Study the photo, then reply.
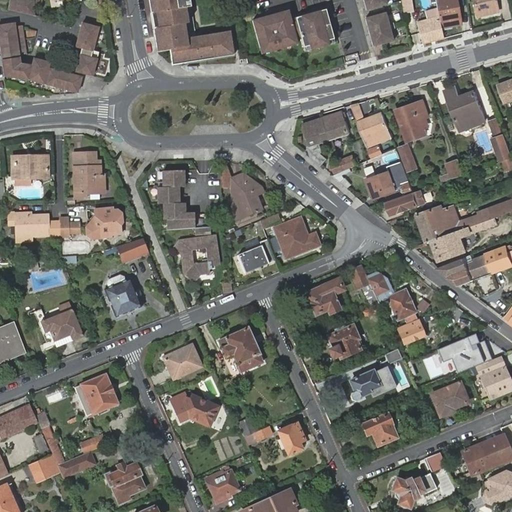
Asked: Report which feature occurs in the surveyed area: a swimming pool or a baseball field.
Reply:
swimming pool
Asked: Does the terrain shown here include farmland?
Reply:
No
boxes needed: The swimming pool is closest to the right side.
[474,130,494,154]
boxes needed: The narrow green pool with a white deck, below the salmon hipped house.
[203,376,220,397]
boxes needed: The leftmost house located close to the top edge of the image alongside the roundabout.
[0,22,84,94]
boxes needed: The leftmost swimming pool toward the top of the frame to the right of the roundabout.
[380,149,400,165]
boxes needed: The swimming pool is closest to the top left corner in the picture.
[16,187,42,199]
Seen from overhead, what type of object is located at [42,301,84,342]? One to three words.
house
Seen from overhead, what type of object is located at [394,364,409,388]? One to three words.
swimming pool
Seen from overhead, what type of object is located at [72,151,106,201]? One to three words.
house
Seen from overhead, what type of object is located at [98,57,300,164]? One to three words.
roundabout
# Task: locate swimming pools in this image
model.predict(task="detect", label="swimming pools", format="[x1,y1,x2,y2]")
[420,0,433,10]
[30,268,64,292]
[380,149,400,165]
[16,187,42,199]
[474,130,494,154]
[203,376,220,397]
[394,364,409,388]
